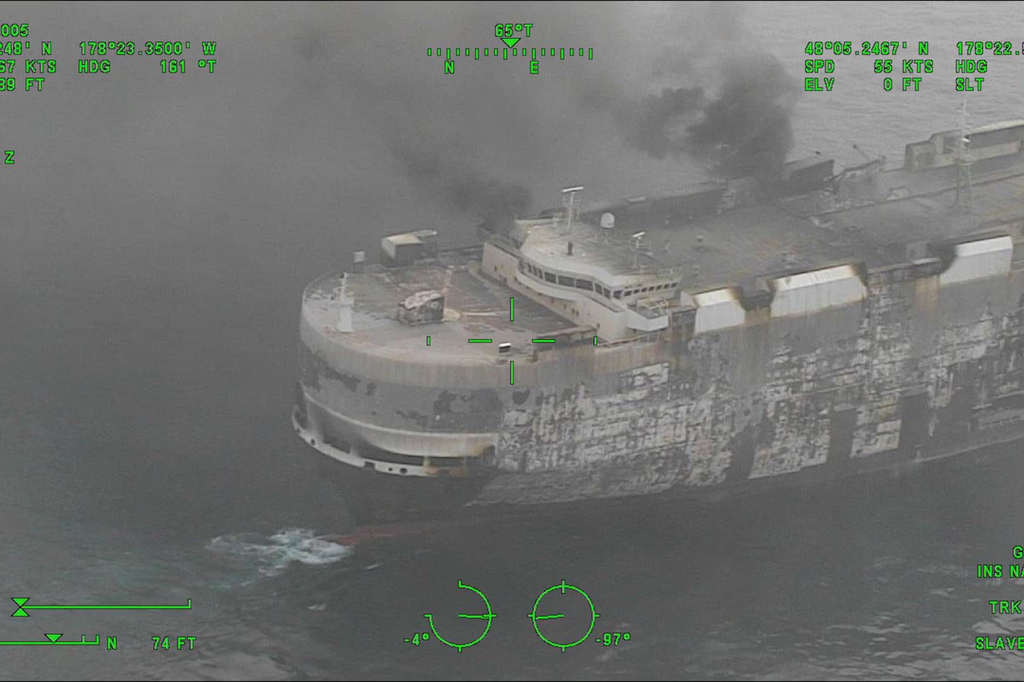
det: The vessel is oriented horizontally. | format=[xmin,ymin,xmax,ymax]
[295,97,1024,537]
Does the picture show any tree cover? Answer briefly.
No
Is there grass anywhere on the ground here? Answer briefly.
No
